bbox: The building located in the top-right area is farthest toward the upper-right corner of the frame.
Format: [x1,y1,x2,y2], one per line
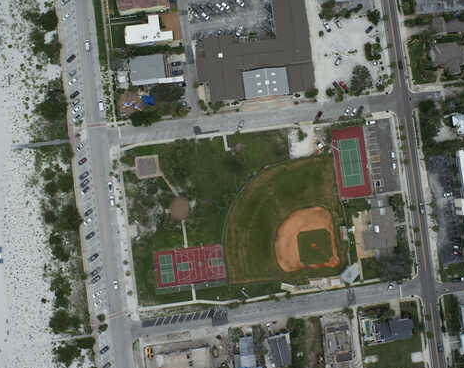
[429,17,464,34]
